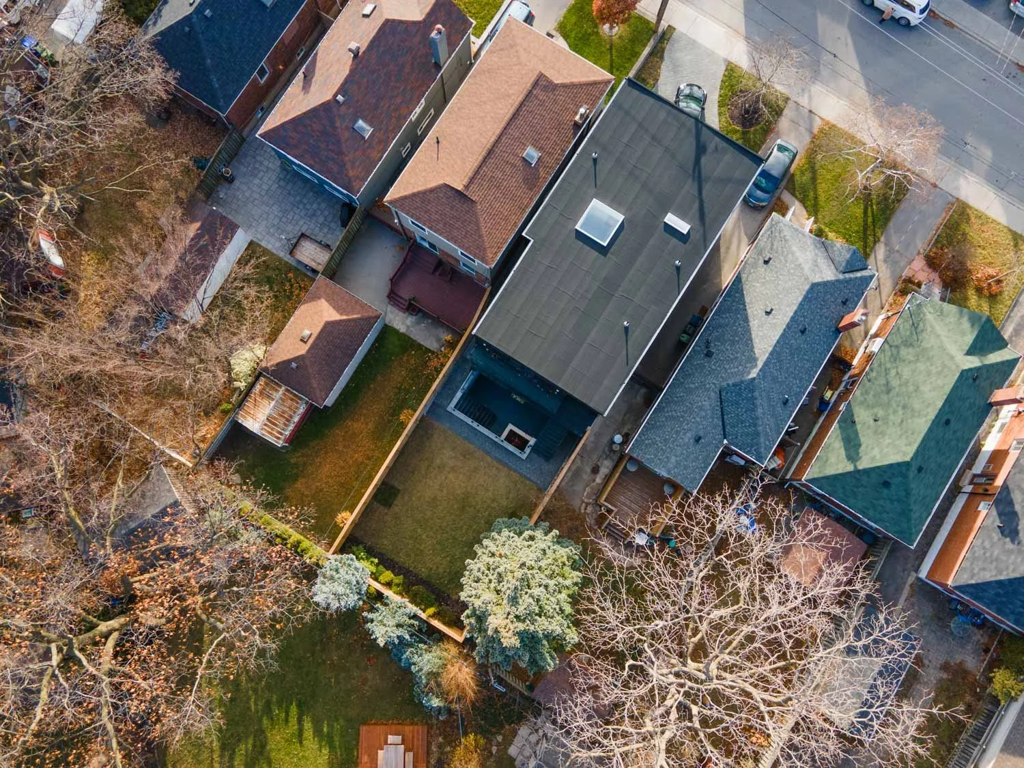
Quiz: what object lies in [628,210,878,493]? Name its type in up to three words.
house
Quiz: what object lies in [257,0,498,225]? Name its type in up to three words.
house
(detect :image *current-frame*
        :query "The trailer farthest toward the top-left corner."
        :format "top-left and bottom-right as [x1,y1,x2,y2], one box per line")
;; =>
[281,234,333,273]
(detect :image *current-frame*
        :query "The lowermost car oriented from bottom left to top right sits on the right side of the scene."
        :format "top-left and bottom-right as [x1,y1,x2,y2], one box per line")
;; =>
[740,136,803,215]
